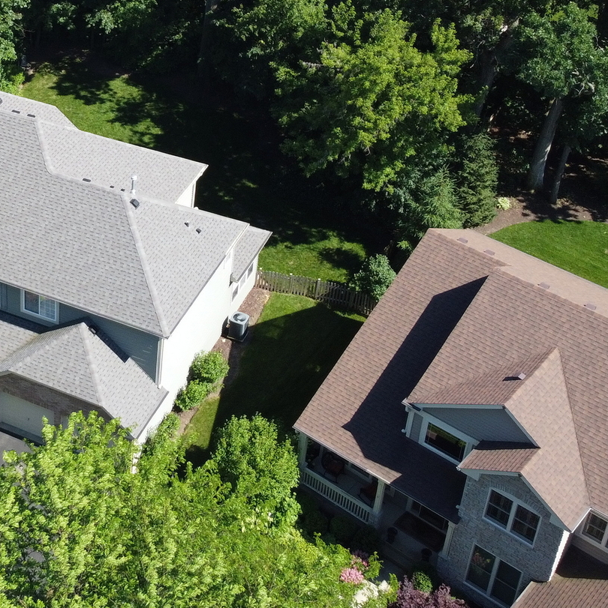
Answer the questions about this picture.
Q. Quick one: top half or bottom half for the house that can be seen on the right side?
bottom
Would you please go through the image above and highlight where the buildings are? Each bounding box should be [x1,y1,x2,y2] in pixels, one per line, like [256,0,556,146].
[0,89,276,461]
[292,227,608,608]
